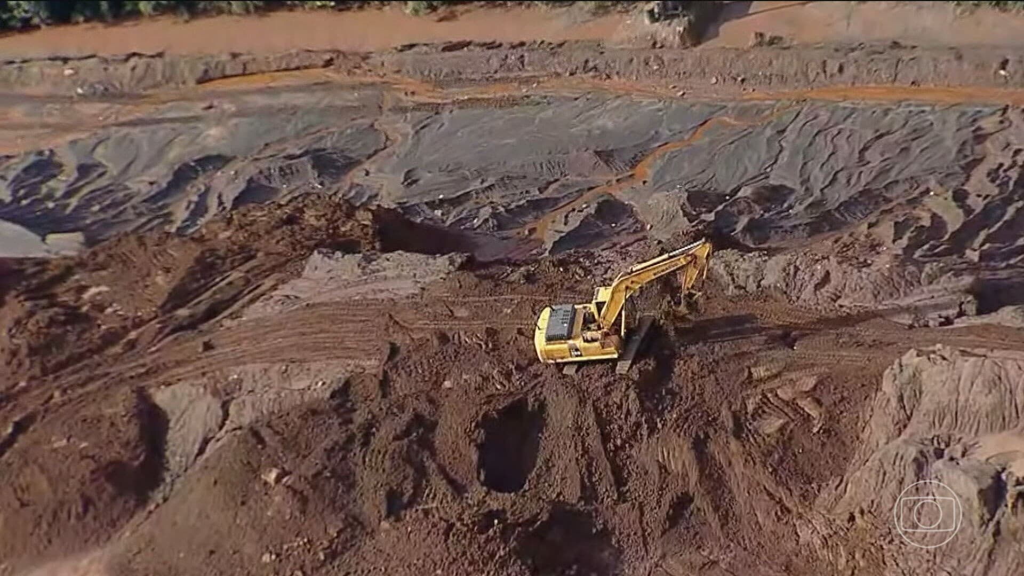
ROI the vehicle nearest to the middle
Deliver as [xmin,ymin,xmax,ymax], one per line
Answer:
[532,233,726,381]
